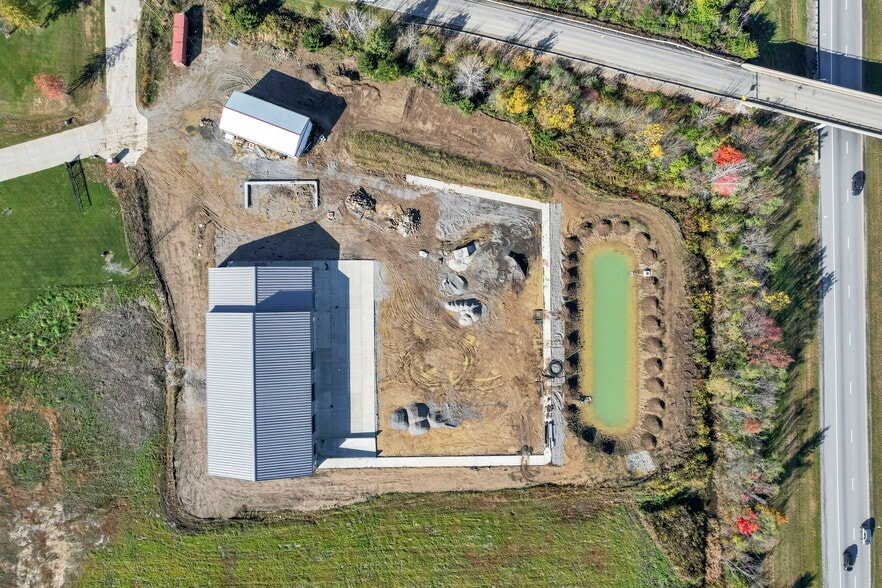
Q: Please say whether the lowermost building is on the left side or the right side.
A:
left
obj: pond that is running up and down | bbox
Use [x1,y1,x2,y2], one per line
[578,241,641,441]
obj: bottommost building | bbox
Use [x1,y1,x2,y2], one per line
[207,266,319,482]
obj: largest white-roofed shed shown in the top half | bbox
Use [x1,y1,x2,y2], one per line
[220,91,312,159]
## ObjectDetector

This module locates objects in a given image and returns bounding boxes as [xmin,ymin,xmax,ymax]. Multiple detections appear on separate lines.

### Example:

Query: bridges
[743,60,882,141]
